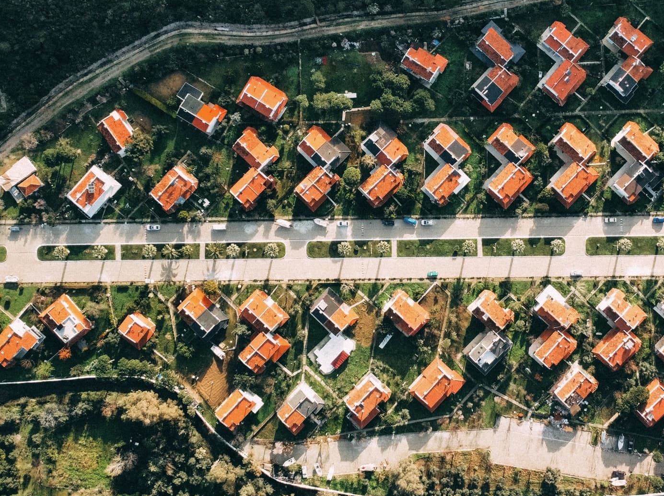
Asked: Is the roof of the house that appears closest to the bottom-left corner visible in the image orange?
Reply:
Yes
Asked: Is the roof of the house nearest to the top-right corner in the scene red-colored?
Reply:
Yes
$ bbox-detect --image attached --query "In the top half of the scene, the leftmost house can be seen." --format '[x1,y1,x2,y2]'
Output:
[0,157,47,203]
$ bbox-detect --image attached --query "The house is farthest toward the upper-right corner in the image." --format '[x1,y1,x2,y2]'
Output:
[601,18,652,61]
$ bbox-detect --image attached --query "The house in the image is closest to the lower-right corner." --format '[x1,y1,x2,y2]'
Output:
[631,378,664,432]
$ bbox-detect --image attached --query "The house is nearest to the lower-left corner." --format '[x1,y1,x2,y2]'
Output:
[0,317,44,367]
